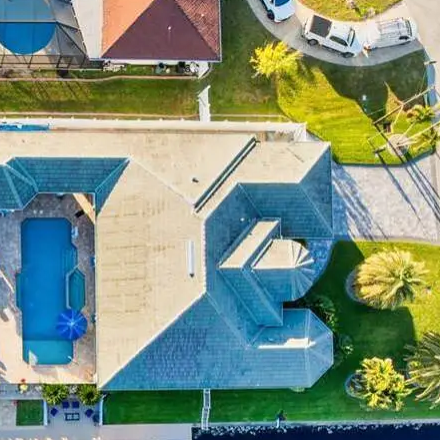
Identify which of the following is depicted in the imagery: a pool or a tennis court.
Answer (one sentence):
I can see a pool in this picture.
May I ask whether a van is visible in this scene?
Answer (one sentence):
Yes, the frame does contain a van.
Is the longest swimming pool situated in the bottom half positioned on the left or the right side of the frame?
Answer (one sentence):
You can find the longest swimming pool situated in the bottom half on the left side of the picture.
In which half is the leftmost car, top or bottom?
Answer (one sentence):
The leftmost car is in the top half of the image.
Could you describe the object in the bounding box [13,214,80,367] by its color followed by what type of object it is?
blue swimming pool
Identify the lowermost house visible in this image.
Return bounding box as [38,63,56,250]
[0,132,335,388]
